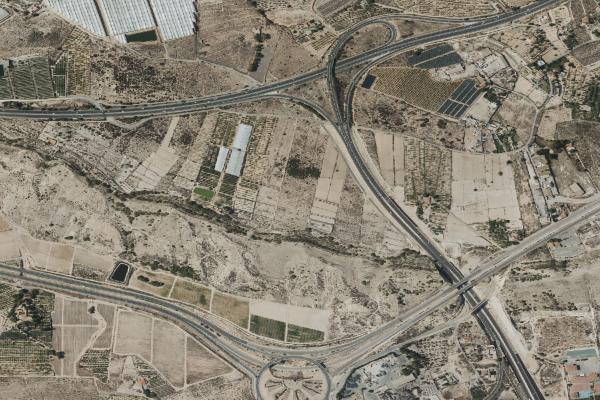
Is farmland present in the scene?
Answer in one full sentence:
Yes, there is farmland in the image.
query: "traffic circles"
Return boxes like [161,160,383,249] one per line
[256,355,330,400]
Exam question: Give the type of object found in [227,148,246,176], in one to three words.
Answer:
greenhouse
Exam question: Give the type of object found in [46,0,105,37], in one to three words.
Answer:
greenhouse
